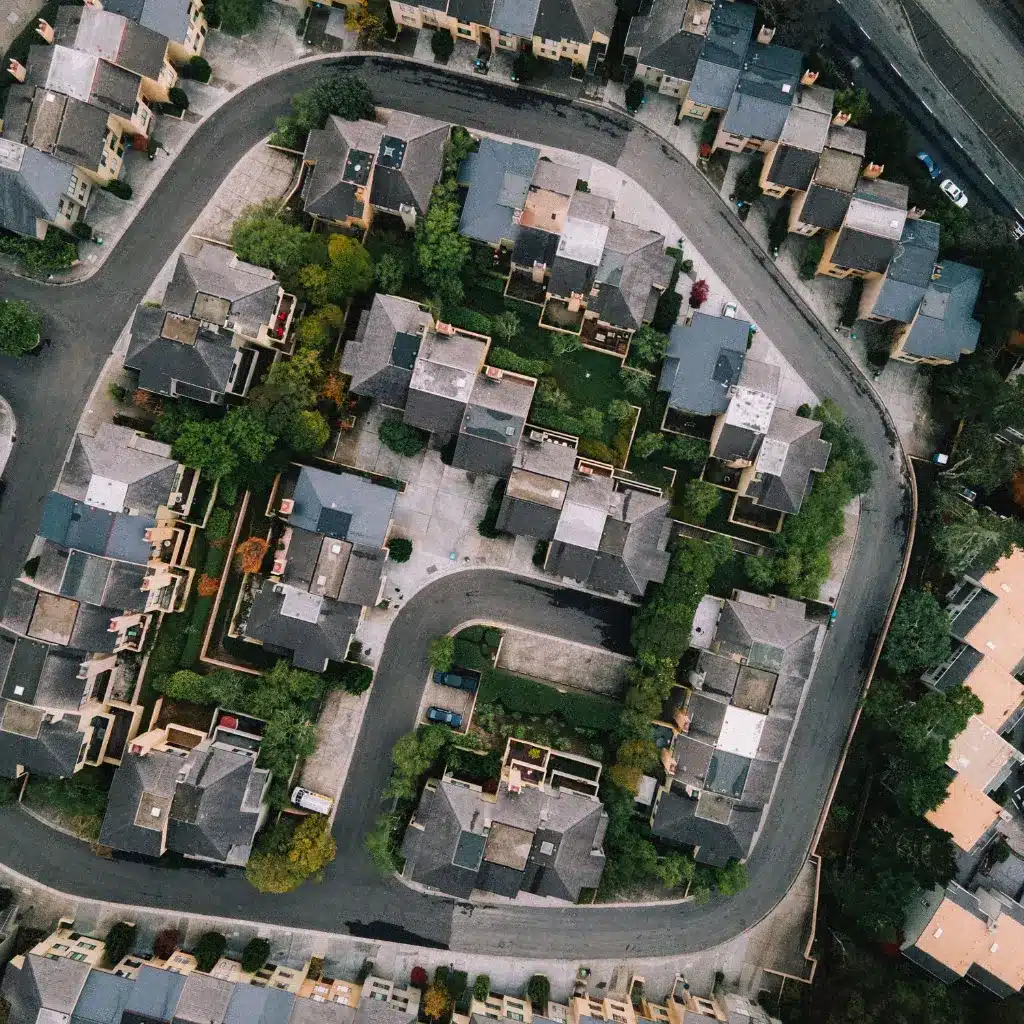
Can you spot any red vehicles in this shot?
No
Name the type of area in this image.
residential area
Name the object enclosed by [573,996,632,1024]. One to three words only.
house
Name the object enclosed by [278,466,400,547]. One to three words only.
house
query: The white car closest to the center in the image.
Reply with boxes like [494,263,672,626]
[720,294,739,319]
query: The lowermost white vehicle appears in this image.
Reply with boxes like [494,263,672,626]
[289,787,334,815]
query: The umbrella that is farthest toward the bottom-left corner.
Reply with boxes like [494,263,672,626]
[220,712,239,728]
